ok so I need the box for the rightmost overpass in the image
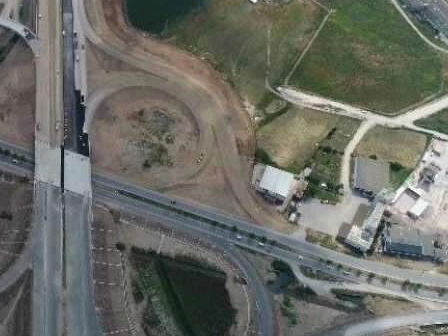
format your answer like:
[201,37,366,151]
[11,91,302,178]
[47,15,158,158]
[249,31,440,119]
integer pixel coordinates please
[65,149,92,194]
